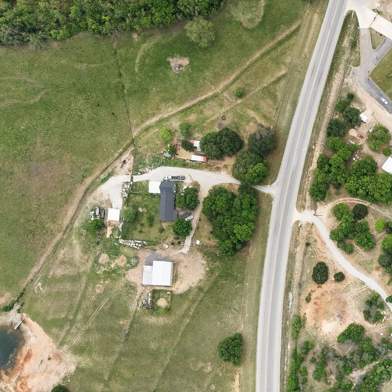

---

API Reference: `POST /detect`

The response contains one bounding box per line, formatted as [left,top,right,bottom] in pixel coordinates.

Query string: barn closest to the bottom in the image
[143,261,174,286]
